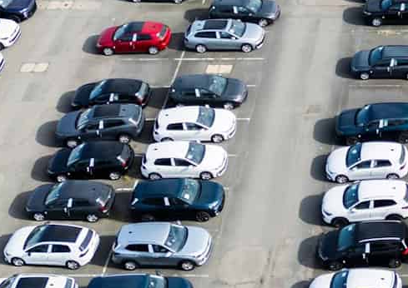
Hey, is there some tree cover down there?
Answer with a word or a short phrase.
No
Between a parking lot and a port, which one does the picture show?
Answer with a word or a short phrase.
parking lot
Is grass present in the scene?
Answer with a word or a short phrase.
No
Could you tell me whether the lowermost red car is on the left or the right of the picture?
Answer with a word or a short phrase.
left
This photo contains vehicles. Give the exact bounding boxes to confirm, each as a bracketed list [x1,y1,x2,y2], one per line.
[155,105,238,143]
[320,180,408,225]
[209,0,283,27]
[0,14,26,49]
[141,140,229,181]
[131,178,229,224]
[168,73,250,110]
[1,222,98,268]
[349,46,408,81]
[334,104,408,145]
[71,77,154,112]
[96,20,173,55]
[46,139,133,179]
[97,271,196,288]
[325,141,408,182]
[364,0,408,27]
[186,18,267,54]
[308,266,403,288]
[115,222,215,271]
[54,102,139,141]
[24,178,116,221]
[317,221,408,270]
[0,0,42,22]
